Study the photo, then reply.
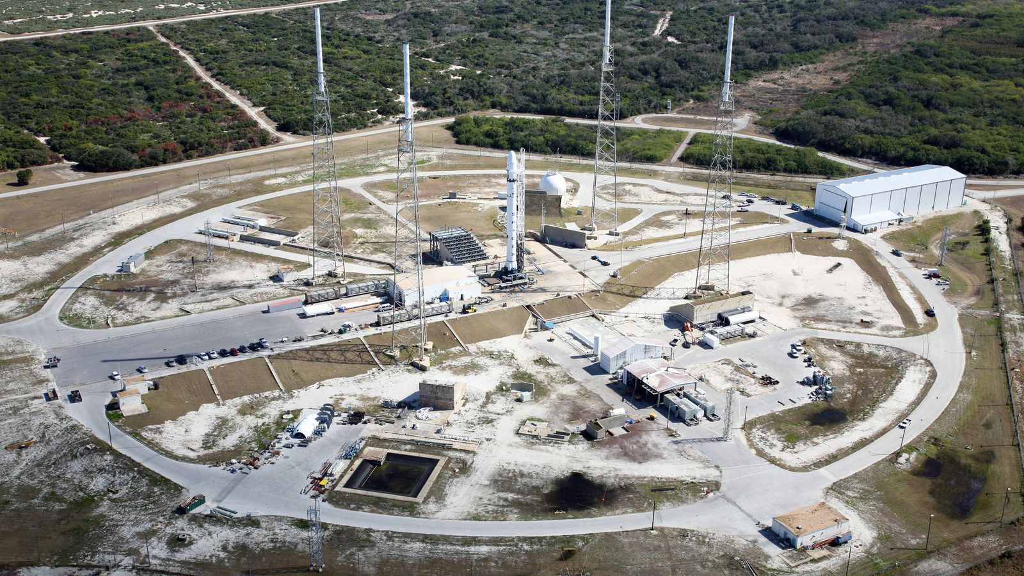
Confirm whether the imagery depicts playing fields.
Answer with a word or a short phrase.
No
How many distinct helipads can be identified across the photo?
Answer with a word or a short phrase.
none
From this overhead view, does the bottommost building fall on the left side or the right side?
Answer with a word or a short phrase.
right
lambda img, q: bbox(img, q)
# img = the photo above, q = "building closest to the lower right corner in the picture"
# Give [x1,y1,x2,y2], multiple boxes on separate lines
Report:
[775,501,851,548]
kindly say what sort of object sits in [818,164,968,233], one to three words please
hangar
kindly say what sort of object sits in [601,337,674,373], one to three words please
building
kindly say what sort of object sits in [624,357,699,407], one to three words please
shed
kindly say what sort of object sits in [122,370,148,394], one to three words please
building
